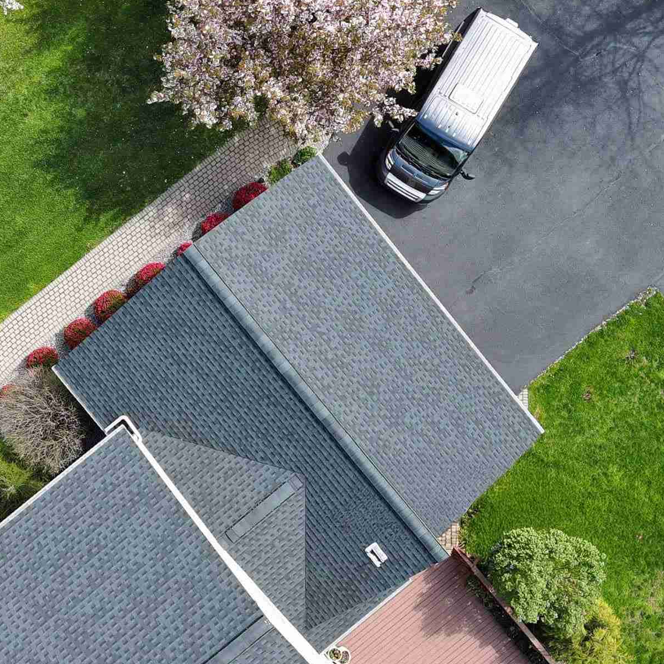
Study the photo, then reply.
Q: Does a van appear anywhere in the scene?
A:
Yes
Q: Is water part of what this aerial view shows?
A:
No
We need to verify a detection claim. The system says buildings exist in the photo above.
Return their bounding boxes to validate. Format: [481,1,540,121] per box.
[0,151,548,664]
